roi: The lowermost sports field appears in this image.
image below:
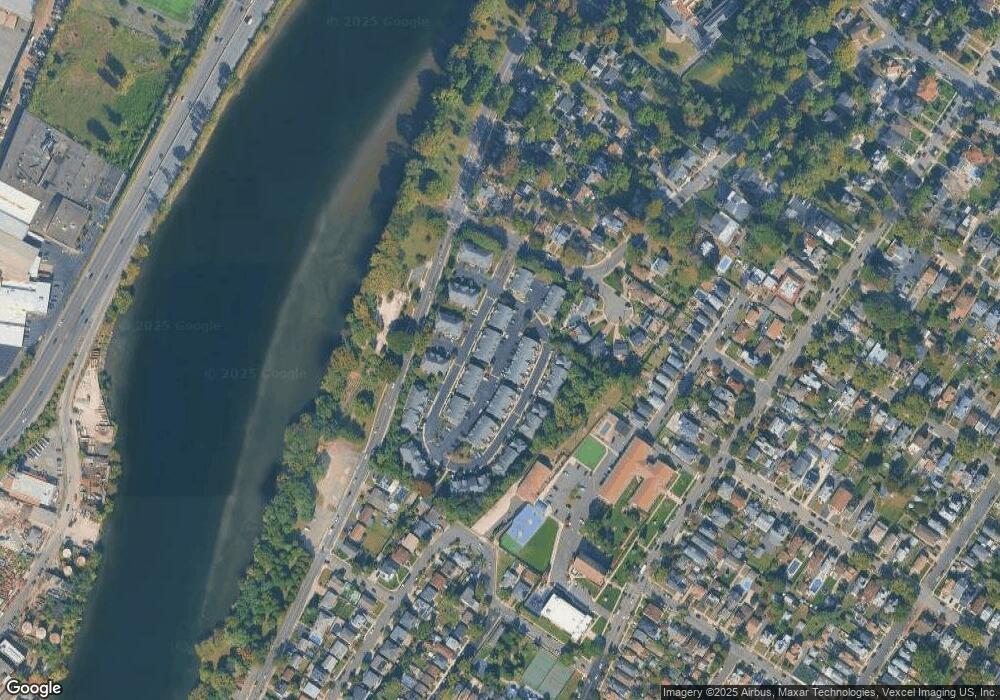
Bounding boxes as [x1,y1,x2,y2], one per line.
[519,515,560,572]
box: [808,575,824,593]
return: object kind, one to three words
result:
swimming pool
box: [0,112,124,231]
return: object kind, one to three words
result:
warehouse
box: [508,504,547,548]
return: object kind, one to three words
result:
basketball court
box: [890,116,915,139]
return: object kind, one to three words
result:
house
